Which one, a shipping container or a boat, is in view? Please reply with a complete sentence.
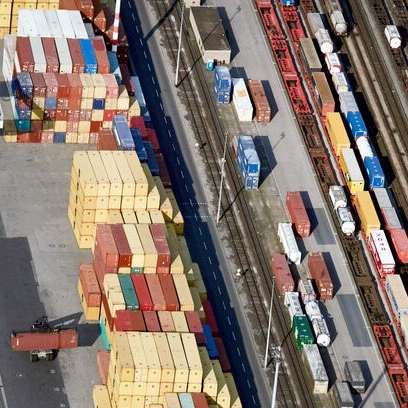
The one in the frame is a shipping container.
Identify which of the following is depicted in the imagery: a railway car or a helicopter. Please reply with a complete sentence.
Of the two, only a railway car appears.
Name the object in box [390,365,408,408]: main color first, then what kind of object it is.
red rail car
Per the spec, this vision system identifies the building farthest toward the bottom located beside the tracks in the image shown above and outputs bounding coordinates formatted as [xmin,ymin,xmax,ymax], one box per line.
[190,6,233,65]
